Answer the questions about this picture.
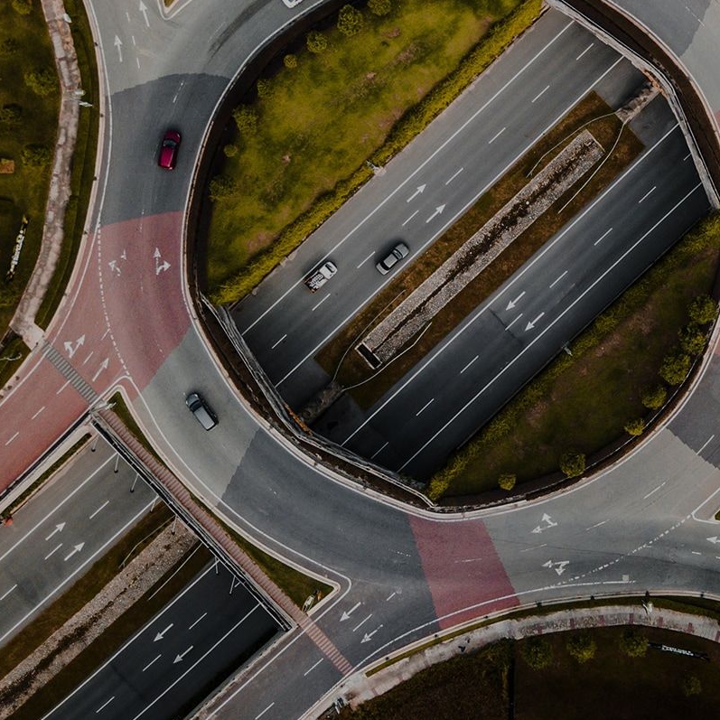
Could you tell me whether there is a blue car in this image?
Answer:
No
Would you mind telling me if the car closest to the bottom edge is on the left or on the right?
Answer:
left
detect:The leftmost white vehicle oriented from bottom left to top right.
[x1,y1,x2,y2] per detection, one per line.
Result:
[303,260,338,293]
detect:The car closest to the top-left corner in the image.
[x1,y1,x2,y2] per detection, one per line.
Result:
[157,131,181,169]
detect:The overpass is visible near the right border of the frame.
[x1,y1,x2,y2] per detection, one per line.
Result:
[544,0,720,214]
